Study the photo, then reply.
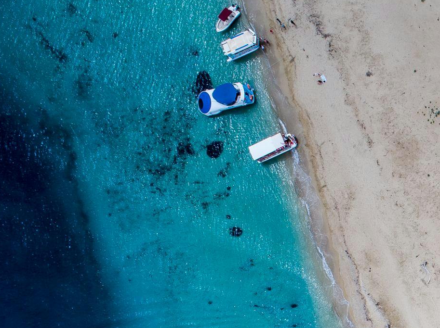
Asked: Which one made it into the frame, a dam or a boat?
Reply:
boat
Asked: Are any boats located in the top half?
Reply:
Yes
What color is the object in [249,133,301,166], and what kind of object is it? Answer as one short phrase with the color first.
white boat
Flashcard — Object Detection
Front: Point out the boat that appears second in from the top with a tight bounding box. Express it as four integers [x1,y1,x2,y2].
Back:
[220,31,264,66]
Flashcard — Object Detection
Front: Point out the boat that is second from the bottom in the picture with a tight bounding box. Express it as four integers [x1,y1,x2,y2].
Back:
[204,86,255,118]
